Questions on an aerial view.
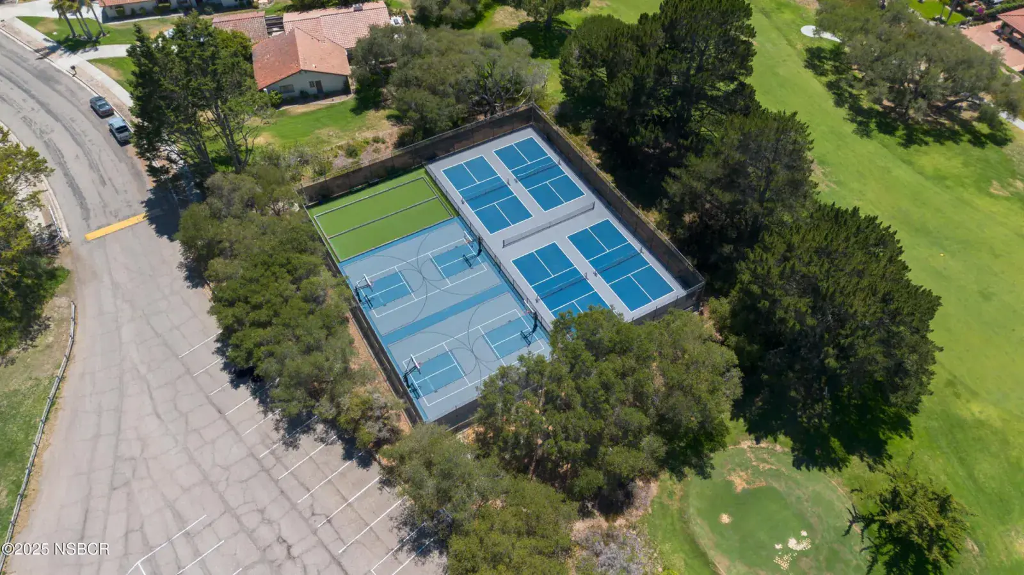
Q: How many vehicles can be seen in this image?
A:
2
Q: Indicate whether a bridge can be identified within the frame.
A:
No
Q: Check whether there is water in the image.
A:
No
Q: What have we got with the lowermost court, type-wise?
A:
basketball court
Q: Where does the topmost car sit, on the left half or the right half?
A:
left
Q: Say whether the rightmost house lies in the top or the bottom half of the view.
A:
top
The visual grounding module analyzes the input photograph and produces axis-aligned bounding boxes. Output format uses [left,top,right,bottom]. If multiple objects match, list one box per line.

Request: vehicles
[87,94,112,115]
[103,114,134,142]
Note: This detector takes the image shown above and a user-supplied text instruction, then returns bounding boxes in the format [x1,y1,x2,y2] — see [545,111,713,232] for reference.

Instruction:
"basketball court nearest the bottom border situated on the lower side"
[388,291,553,414]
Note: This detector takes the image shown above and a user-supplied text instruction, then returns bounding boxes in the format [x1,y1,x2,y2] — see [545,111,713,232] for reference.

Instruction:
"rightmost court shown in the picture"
[567,218,675,312]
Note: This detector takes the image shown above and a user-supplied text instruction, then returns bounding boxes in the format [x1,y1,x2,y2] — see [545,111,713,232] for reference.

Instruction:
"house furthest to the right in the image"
[992,9,1024,45]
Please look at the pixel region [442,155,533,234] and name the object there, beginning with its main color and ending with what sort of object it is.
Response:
blue sports court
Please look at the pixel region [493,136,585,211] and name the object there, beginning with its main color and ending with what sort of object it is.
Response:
blue sports court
